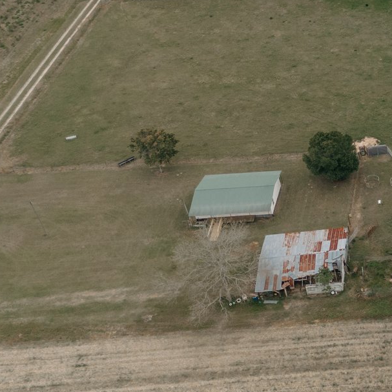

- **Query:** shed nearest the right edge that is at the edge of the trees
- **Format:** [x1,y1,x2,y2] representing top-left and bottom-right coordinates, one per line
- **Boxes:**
[256,227,352,307]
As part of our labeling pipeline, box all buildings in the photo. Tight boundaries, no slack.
[256,227,352,307]
[186,172,285,249]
